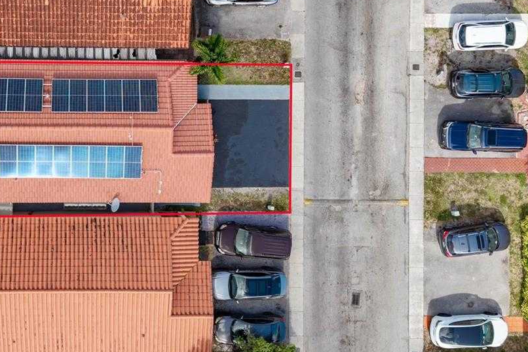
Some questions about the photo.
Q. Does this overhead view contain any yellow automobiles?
No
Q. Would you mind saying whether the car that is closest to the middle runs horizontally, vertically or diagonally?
horizontally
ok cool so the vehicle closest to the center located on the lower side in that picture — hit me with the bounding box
[213,221,292,259]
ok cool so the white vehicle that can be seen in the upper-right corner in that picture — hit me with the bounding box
[451,16,527,53]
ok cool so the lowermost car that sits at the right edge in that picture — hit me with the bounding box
[428,312,504,352]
